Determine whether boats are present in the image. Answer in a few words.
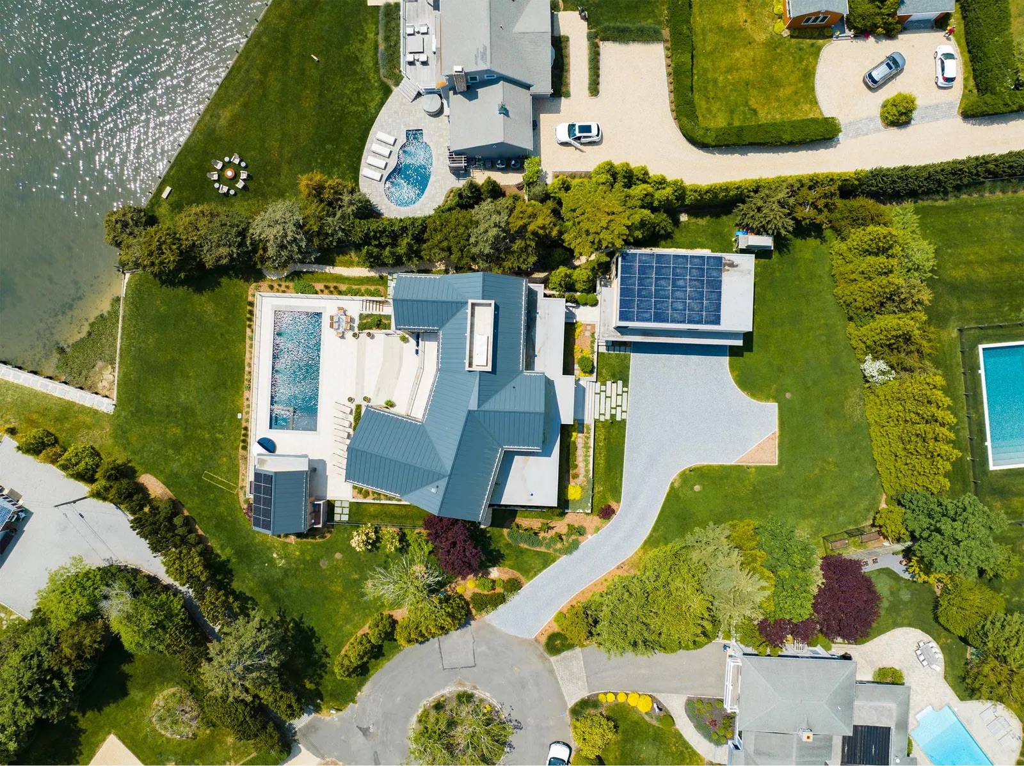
No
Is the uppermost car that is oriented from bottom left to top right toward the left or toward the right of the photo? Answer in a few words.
right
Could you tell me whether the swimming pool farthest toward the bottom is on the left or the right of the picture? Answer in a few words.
right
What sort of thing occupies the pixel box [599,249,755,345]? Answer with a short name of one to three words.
building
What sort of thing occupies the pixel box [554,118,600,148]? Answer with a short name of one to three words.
car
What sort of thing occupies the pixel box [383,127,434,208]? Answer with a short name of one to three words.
swimming pool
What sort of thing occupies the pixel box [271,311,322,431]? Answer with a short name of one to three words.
swimming pool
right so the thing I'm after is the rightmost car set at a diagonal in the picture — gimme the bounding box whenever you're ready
[858,50,904,92]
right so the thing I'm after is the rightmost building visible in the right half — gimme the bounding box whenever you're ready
[896,0,955,31]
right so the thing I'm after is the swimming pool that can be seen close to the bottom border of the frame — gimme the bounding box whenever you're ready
[910,705,999,766]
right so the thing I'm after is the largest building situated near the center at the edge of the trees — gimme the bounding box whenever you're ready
[345,271,595,522]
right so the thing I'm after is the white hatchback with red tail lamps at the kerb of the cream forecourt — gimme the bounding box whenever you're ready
[928,47,953,91]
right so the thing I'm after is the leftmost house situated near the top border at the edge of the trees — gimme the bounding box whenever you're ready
[440,0,560,163]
